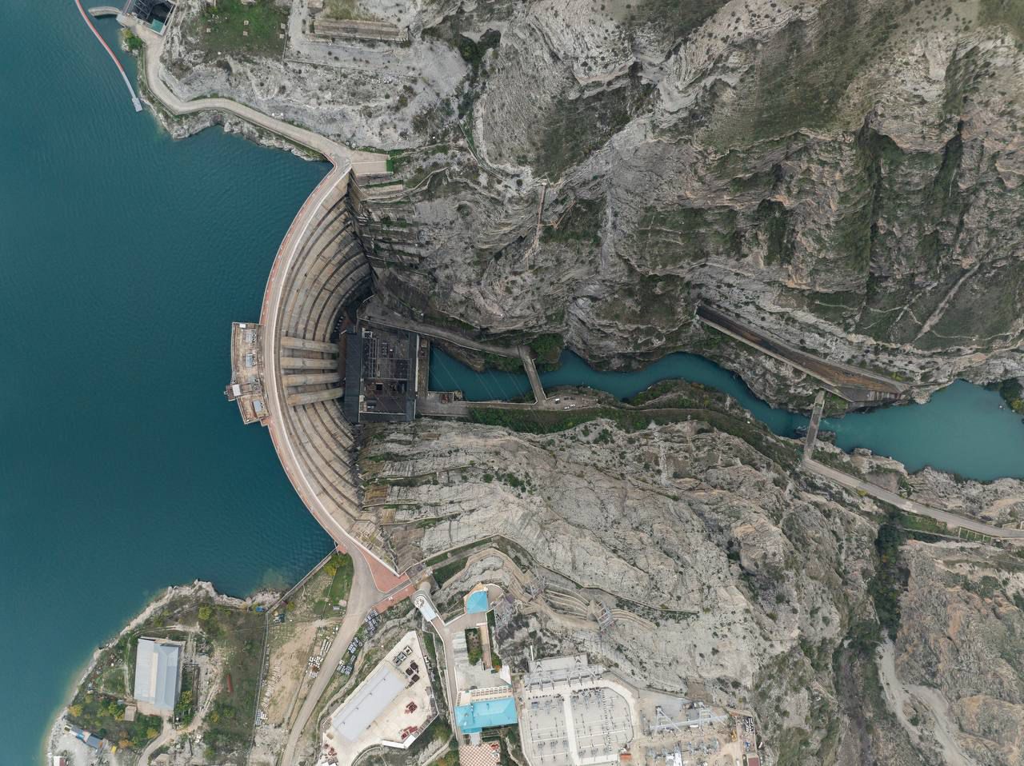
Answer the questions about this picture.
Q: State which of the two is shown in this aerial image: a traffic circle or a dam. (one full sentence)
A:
I can see a dam in this picture.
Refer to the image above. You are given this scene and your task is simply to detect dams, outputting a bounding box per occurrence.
[231,159,397,573]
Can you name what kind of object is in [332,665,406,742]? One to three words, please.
building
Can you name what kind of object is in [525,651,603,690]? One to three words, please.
building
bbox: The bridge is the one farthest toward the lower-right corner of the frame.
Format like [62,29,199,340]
[798,394,824,462]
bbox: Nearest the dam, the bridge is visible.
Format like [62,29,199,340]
[518,346,547,407]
